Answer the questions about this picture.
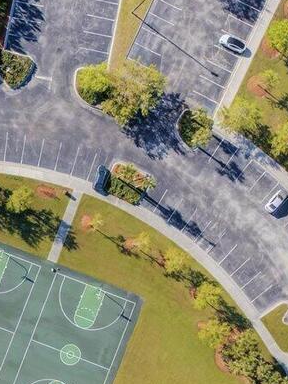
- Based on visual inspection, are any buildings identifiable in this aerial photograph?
No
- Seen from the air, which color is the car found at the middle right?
white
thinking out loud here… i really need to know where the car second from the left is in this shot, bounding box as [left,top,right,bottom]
[218,34,246,53]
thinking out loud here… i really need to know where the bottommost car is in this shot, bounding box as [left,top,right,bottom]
[263,189,288,214]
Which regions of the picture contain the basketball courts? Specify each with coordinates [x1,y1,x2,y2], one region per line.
[0,243,50,384]
[4,263,143,384]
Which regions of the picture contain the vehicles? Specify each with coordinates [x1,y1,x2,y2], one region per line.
[218,34,246,53]
[263,189,288,214]
[94,165,111,193]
